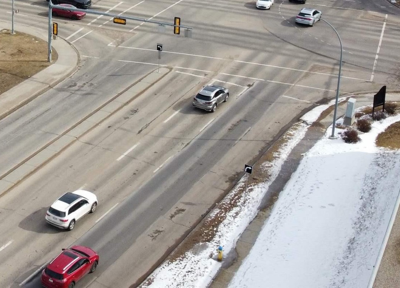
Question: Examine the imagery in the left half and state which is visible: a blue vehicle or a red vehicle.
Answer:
red vehicle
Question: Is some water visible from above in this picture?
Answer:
No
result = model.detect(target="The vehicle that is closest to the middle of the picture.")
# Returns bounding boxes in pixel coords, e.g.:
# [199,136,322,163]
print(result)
[193,89,226,115]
